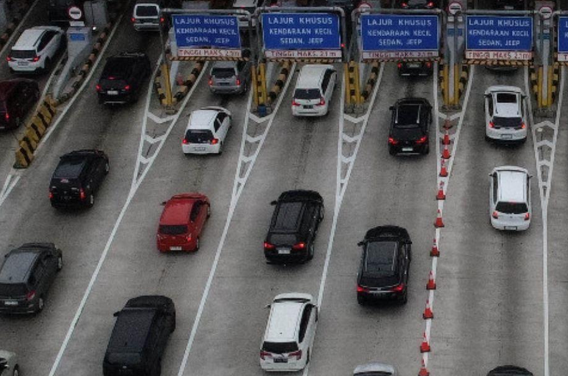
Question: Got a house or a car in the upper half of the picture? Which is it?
car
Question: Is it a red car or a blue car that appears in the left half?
red car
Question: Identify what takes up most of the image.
paved ground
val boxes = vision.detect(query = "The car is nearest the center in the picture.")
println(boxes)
[262,184,325,262]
